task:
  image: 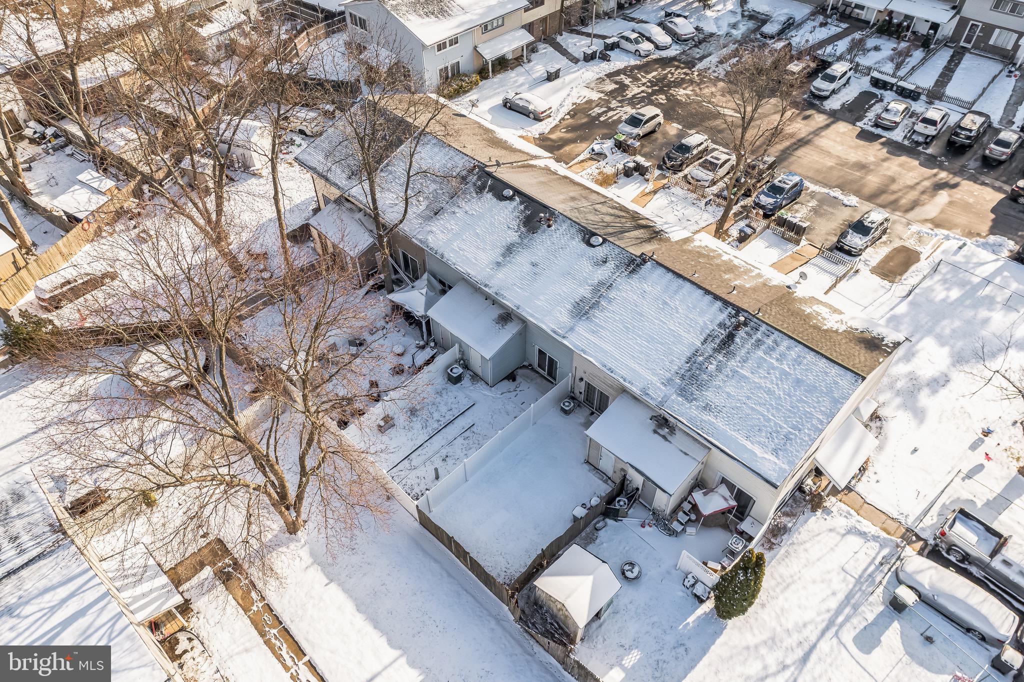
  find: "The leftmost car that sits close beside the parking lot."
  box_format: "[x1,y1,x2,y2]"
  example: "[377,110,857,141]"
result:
[503,96,554,123]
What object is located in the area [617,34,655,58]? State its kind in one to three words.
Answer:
car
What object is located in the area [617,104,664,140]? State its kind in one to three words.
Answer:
car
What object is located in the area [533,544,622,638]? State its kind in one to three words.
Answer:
shed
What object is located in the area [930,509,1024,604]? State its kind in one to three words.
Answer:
truck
